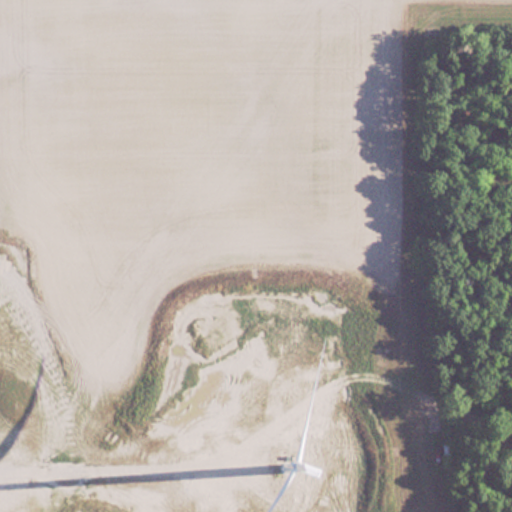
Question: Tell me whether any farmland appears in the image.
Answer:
Yes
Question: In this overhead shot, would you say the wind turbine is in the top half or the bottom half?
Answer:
bottom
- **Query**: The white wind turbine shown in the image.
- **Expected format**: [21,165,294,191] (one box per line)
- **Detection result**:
[266,339,326,512]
